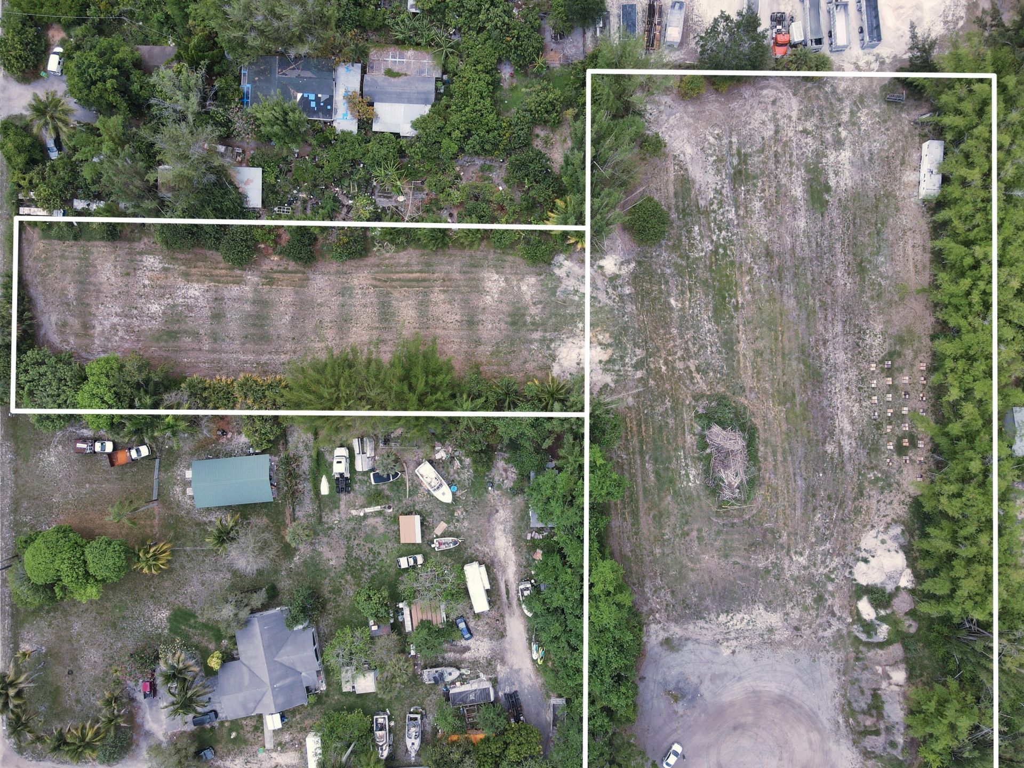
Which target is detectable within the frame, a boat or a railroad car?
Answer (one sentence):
Looking from above, you can make out a boat.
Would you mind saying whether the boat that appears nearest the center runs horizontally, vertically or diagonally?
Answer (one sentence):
In this picture, the boat that appears nearest the center is oriented diagonally.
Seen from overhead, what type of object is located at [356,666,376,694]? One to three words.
shed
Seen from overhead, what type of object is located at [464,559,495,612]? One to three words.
vehicle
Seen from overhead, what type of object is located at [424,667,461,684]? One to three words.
boat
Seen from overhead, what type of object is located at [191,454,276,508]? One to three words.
house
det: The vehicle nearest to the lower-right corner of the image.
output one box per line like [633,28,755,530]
[659,740,681,768]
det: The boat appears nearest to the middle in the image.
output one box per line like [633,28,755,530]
[415,461,454,505]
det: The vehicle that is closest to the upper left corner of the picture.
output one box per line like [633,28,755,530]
[46,47,66,78]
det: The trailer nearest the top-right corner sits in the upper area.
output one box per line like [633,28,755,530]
[859,0,883,48]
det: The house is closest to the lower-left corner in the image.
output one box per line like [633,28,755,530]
[218,607,327,719]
